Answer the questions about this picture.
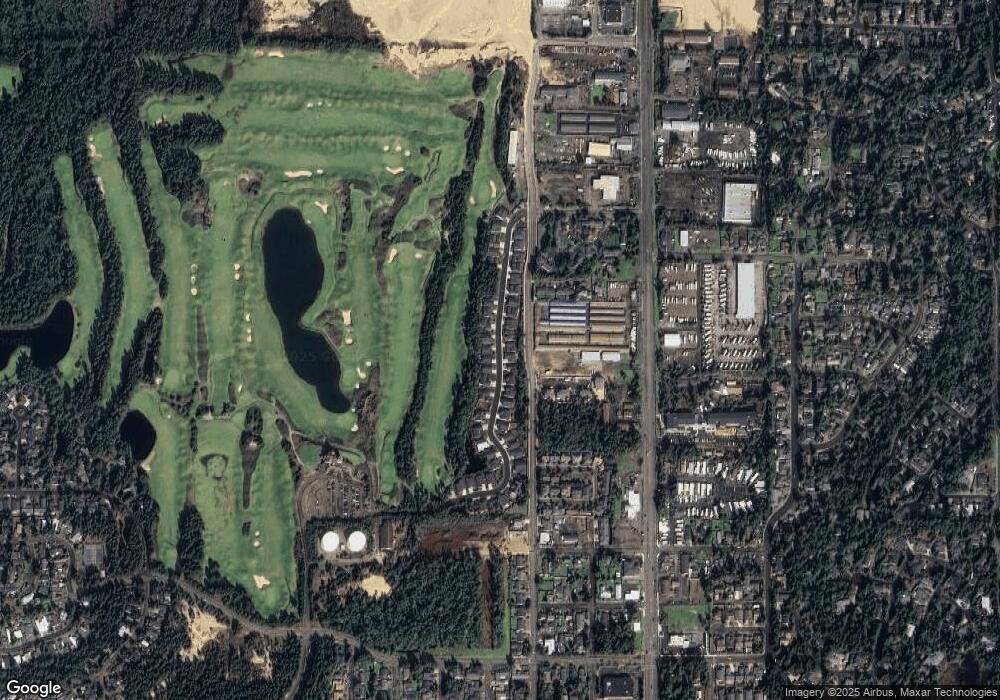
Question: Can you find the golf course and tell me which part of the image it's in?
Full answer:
The golf course appears toward the left of the photo.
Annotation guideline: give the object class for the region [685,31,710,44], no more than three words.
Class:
building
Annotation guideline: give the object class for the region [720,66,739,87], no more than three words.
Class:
shed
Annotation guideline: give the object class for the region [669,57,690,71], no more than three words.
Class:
building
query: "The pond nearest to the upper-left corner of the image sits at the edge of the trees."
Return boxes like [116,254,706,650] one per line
[0,301,73,369]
